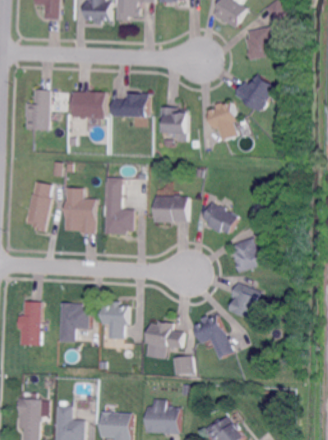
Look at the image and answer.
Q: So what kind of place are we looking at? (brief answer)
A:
residential area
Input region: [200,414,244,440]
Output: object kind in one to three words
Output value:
house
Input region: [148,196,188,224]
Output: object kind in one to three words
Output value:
house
